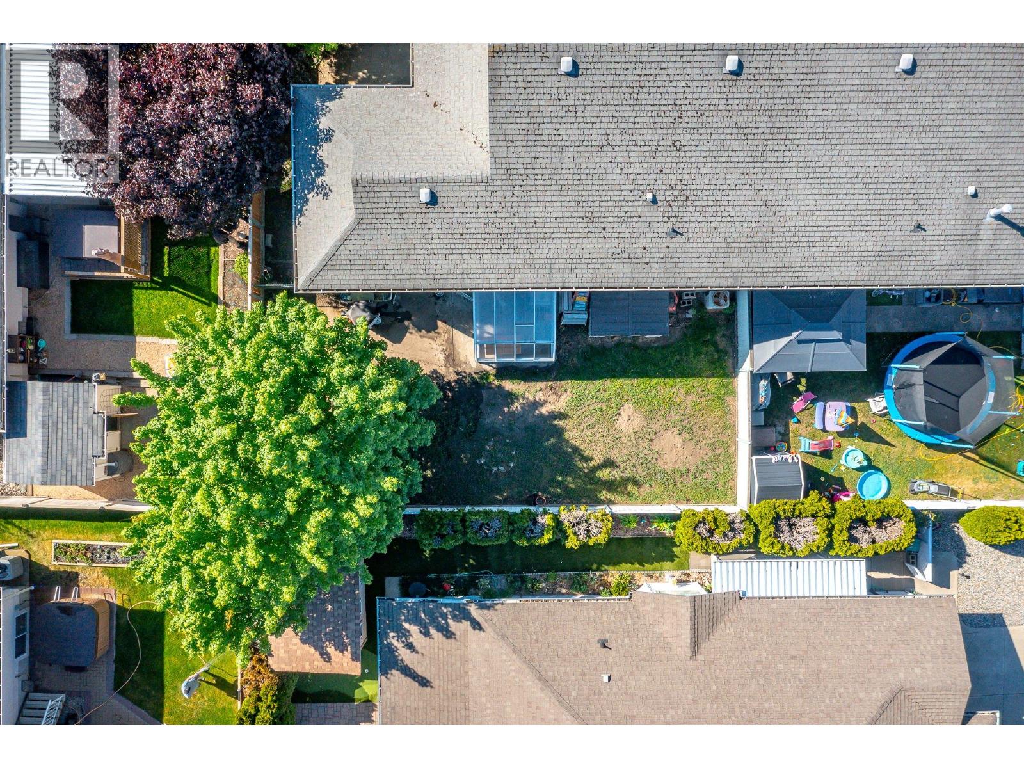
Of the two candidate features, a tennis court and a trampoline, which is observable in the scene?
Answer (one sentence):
It is a trampoline that can be seen here.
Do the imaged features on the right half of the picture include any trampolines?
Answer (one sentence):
Yes, you'll find a trampoline on the right half of the picture.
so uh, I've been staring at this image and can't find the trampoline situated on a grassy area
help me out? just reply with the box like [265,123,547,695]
[875,332,1021,448]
